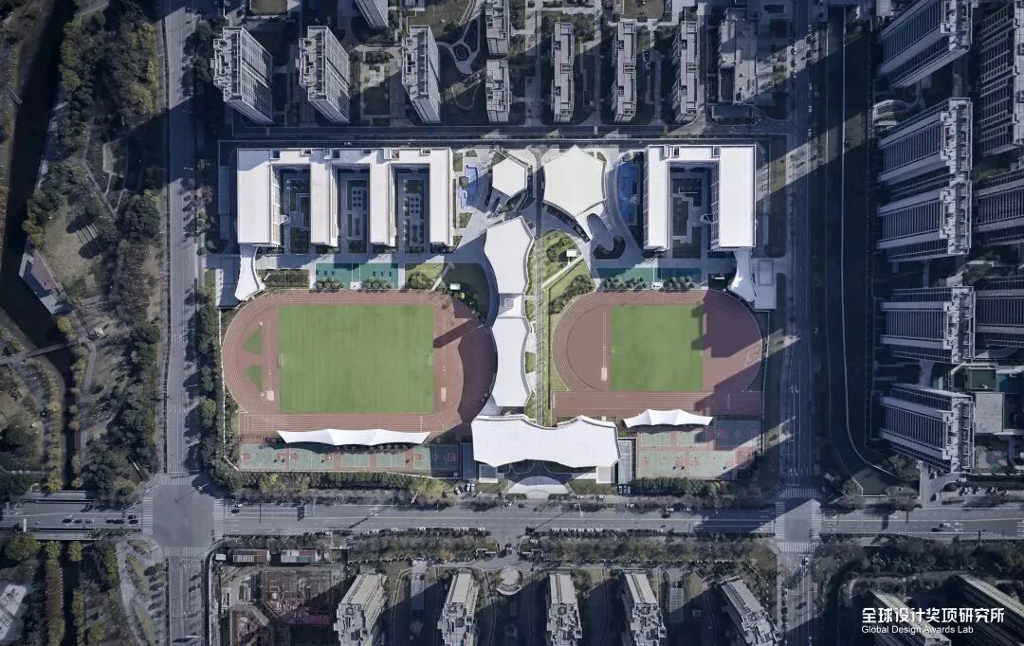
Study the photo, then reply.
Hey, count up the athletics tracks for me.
2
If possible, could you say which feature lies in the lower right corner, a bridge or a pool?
bridge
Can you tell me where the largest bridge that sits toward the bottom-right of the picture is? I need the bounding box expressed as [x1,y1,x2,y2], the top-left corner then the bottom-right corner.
[853,496,908,544]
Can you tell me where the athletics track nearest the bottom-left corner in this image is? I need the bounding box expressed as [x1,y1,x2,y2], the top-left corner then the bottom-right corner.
[221,288,496,444]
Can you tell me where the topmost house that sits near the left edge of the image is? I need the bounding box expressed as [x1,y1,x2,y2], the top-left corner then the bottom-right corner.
[19,248,75,314]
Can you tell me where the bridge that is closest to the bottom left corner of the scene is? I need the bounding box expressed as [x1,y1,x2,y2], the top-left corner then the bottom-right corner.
[36,491,91,540]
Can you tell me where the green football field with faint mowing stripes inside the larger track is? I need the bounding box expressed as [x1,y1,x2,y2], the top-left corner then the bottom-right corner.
[280,305,433,414]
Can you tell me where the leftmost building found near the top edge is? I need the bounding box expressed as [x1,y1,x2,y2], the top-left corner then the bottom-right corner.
[213,25,274,124]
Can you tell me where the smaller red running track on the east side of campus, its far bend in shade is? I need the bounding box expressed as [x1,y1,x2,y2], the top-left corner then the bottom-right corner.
[551,289,763,420]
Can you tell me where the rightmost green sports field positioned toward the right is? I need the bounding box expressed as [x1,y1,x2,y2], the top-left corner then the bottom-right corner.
[610,305,702,390]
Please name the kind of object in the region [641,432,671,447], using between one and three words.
sports court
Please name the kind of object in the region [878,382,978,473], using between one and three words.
building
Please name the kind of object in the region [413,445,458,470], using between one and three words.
basketball court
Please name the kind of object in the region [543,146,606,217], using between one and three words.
building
